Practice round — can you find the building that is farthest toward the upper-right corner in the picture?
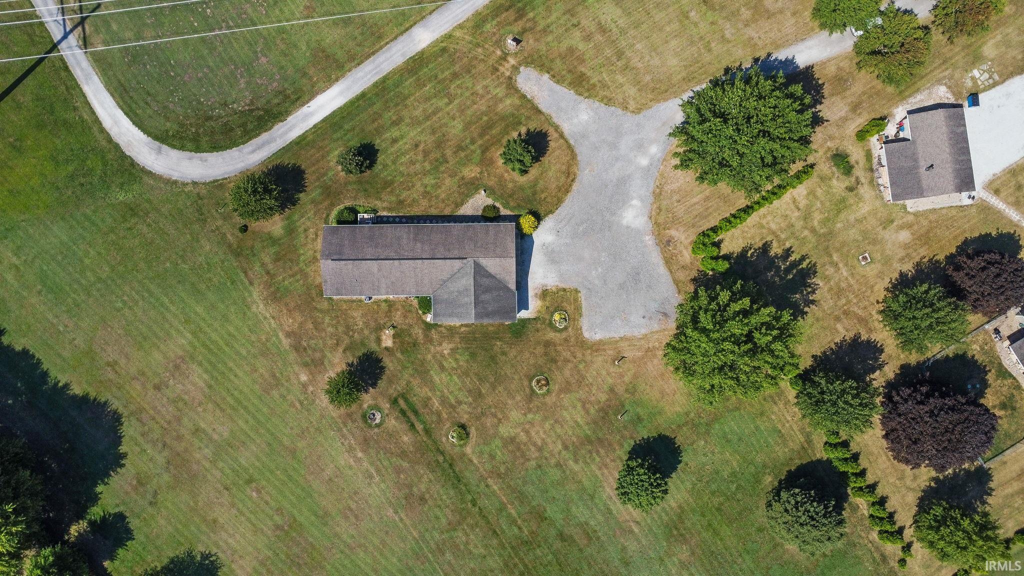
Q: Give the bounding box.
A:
[880,108,976,202]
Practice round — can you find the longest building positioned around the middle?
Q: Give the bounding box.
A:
[321,223,517,323]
